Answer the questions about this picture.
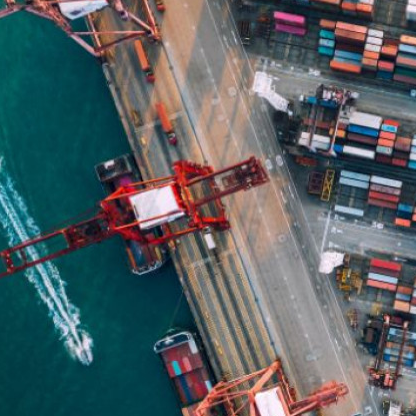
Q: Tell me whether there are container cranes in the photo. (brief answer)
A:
Yes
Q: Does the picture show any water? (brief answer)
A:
Yes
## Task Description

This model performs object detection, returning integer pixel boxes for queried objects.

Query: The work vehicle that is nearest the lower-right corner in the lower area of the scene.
[377,397,390,416]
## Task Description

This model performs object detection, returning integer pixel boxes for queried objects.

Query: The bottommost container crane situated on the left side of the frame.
[0,155,272,284]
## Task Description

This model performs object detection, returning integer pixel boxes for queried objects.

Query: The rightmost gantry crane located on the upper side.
[307,83,354,164]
